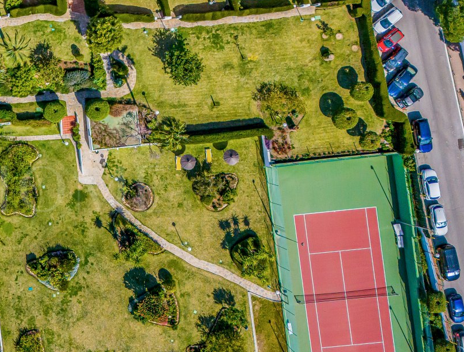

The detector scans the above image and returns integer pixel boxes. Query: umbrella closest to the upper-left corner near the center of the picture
[180,154,196,170]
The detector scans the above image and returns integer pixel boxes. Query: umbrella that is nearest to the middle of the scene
[223,149,239,165]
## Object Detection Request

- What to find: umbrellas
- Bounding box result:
[180,154,196,170]
[223,149,239,165]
